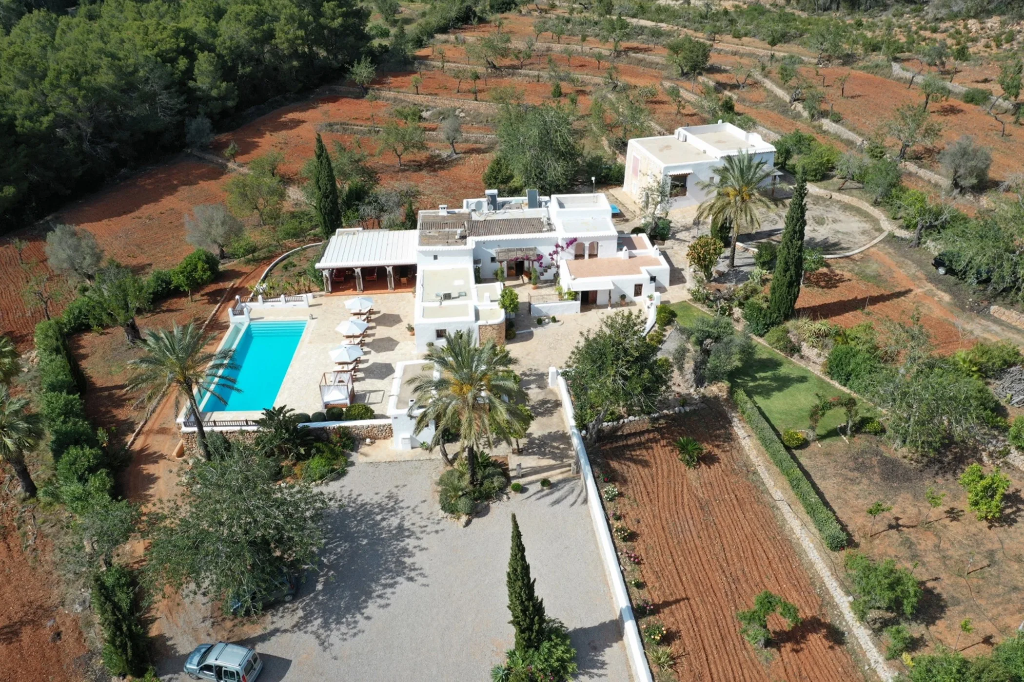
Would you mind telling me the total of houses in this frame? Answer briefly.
2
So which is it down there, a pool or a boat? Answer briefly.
pool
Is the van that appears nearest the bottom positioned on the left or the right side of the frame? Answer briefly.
left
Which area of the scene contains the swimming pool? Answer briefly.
left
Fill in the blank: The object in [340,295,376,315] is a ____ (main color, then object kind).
white umbrella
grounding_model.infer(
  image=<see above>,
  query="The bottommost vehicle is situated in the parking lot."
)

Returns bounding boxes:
[180,644,261,682]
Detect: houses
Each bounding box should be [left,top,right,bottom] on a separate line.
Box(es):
[315,179,669,353]
[626,120,784,211]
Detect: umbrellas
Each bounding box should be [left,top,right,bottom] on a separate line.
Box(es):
[340,295,376,315]
[324,340,364,369]
[332,315,369,339]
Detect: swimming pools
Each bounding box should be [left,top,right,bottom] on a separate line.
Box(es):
[182,318,312,416]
